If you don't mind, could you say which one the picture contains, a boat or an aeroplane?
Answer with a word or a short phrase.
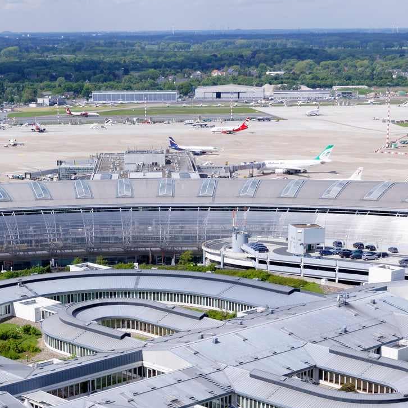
aeroplane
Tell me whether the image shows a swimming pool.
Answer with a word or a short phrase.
No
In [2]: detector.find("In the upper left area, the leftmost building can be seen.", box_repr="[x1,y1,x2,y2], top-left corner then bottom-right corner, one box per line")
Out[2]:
[37,98,65,115]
